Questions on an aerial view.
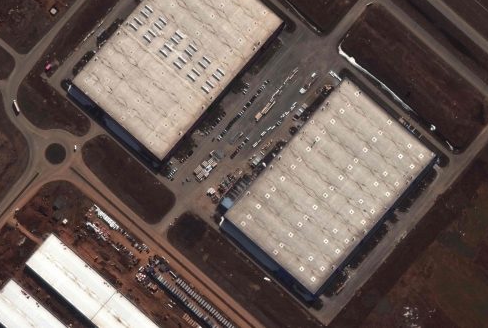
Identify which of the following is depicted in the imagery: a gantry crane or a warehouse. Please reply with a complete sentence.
I can see a warehouse in this picture.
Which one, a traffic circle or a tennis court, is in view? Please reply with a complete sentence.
There is a traffic circle in the scene.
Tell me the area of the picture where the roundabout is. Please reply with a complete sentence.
The roundabout sits in the left section of the image.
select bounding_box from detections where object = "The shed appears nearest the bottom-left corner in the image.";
[0,279,67,328]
